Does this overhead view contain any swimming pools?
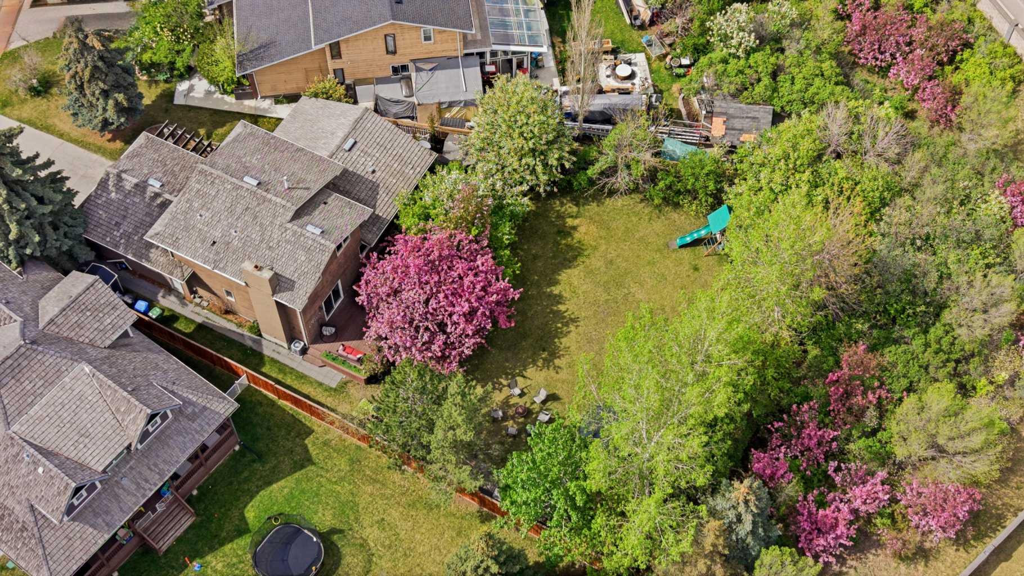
No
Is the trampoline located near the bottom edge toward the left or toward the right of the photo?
left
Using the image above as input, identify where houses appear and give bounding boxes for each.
[232,0,547,101]
[69,96,439,347]
[0,230,245,576]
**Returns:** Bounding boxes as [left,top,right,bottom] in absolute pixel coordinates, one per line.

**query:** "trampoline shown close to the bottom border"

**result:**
[243,509,327,576]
